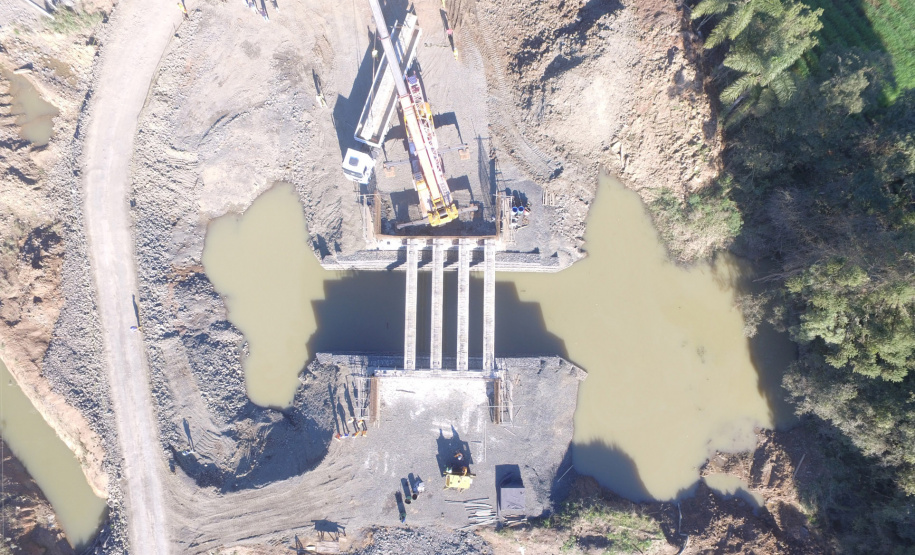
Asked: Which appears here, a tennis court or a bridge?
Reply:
bridge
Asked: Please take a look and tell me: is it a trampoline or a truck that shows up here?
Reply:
truck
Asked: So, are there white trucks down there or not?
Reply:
Yes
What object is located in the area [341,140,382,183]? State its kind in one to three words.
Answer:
truck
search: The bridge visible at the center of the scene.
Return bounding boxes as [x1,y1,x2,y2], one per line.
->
[366,232,503,373]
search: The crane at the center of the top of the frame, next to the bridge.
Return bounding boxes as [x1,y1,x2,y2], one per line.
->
[367,0,483,233]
